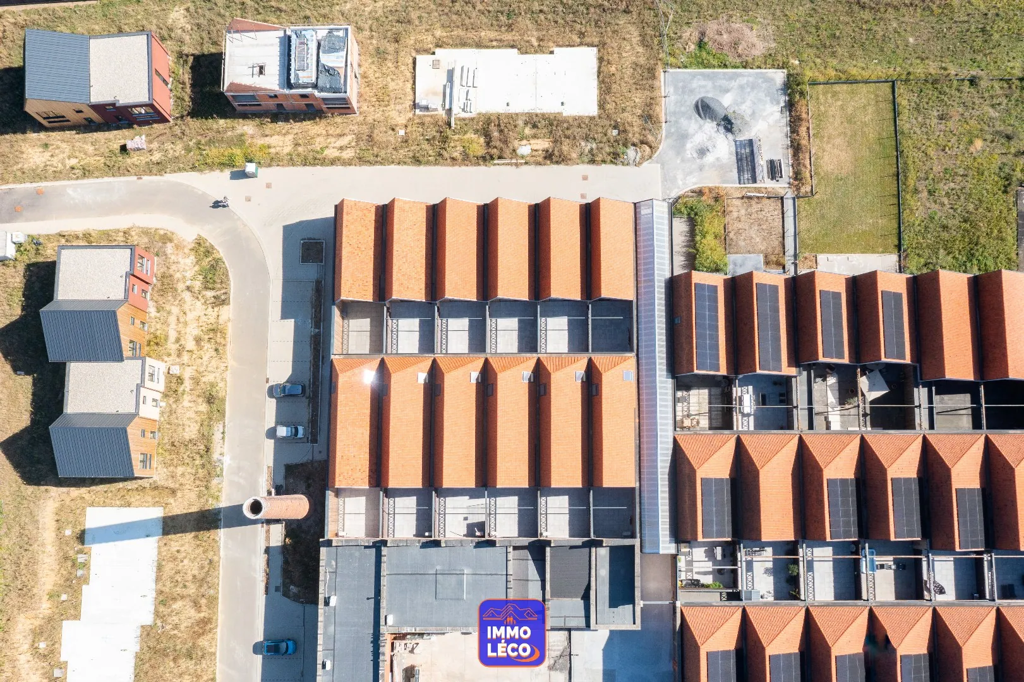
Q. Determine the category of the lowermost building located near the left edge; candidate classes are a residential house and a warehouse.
residential house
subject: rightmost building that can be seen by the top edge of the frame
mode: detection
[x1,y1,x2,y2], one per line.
[222,17,357,111]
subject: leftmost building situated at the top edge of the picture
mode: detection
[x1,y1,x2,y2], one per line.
[23,29,169,123]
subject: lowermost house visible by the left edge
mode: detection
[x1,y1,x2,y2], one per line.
[49,357,162,479]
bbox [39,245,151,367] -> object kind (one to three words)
house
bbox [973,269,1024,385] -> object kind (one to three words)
house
